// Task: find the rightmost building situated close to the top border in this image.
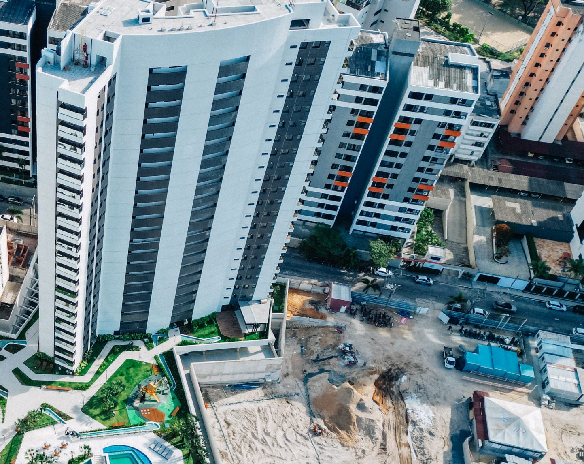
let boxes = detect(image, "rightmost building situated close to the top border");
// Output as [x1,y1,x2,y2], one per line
[493,0,584,152]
